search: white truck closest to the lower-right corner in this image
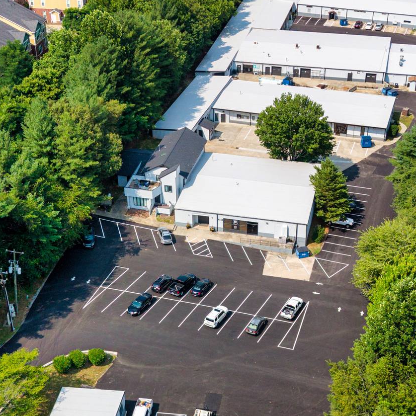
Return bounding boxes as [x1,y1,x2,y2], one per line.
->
[278,295,305,320]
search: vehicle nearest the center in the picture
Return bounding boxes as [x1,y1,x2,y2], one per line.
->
[156,226,174,245]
